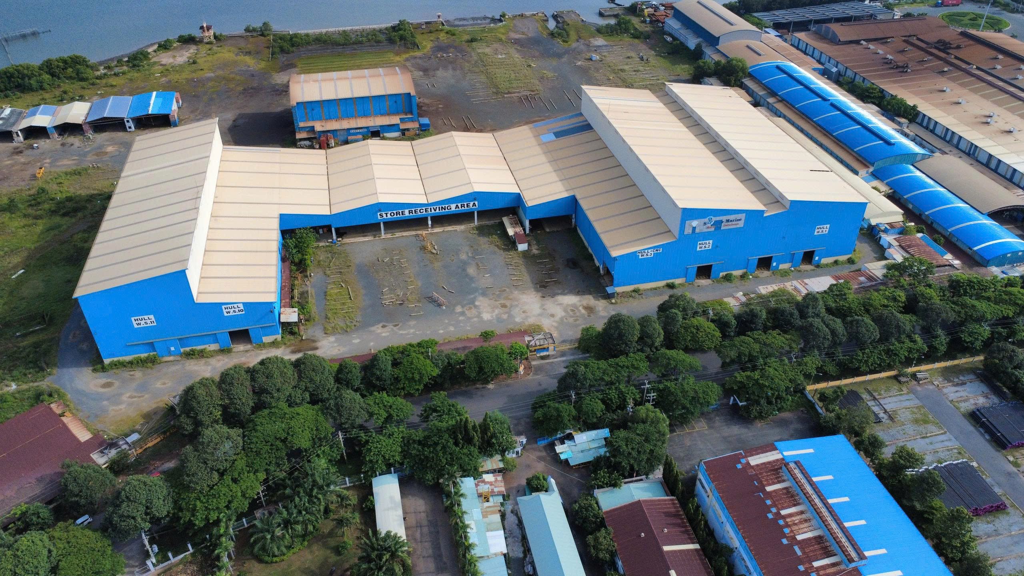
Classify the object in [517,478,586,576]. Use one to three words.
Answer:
house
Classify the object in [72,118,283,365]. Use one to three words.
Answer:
building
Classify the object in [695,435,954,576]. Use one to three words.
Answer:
shed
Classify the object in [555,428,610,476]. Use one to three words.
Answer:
shed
